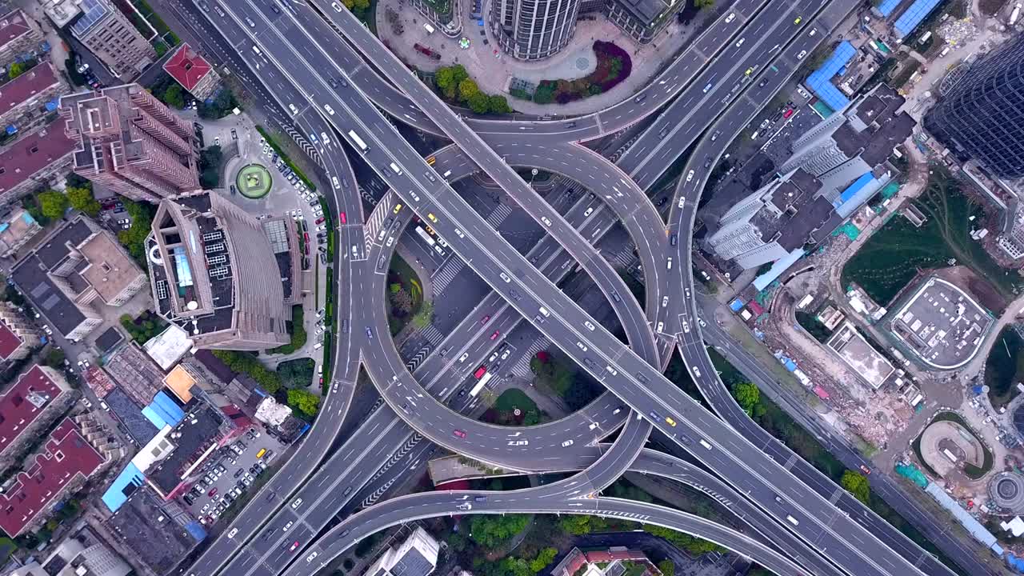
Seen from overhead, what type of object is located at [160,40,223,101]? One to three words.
house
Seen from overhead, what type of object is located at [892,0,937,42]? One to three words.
shed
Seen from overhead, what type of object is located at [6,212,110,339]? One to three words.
building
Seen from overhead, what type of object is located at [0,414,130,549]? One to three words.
building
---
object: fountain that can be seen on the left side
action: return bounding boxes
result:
[235,162,273,199]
